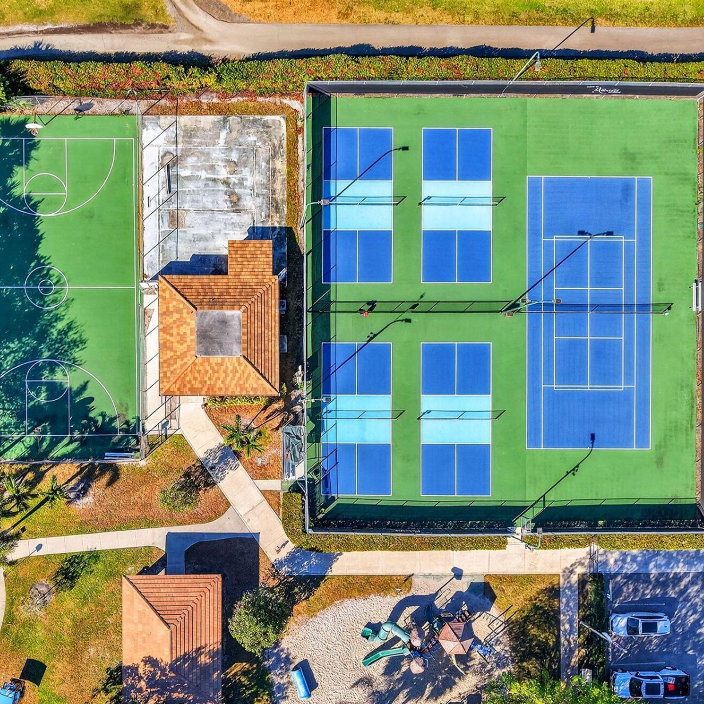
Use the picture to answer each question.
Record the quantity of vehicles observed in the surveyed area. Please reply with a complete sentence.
My tally gives 2 vehicles in this view.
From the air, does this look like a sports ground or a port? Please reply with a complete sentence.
It's a sports ground.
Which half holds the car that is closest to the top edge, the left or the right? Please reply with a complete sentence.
The car that is closest to the top edge is on the right side of the image.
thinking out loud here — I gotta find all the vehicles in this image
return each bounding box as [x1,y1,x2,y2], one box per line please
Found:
[608,612,668,640]
[611,666,689,700]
